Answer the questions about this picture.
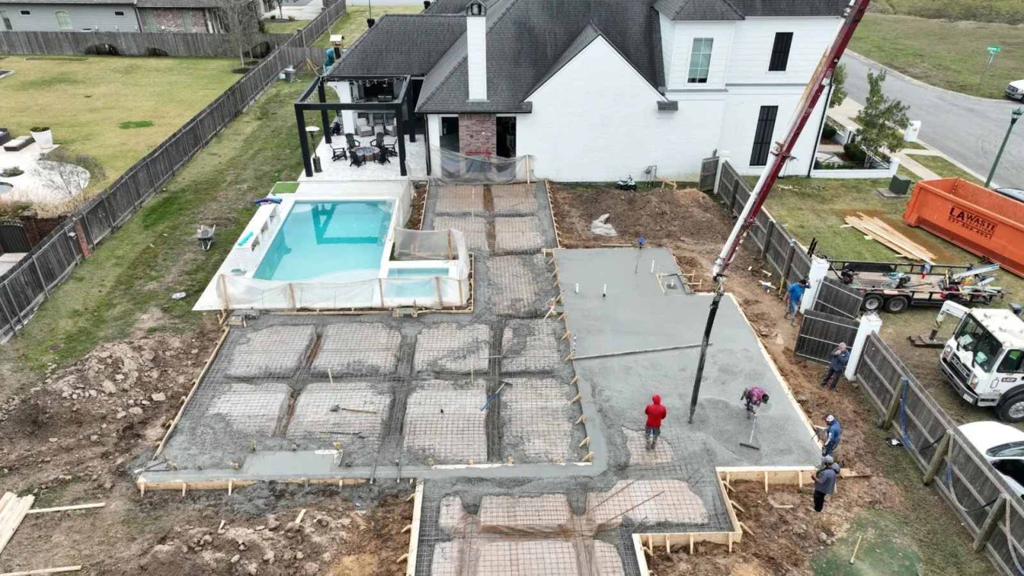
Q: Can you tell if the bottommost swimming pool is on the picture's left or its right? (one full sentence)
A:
The bottommost swimming pool is on the left side of the image.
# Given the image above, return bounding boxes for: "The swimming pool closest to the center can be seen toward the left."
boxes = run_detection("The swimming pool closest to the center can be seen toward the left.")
[232,198,463,304]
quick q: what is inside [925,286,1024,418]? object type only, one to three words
truck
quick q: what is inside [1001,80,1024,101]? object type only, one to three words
truck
